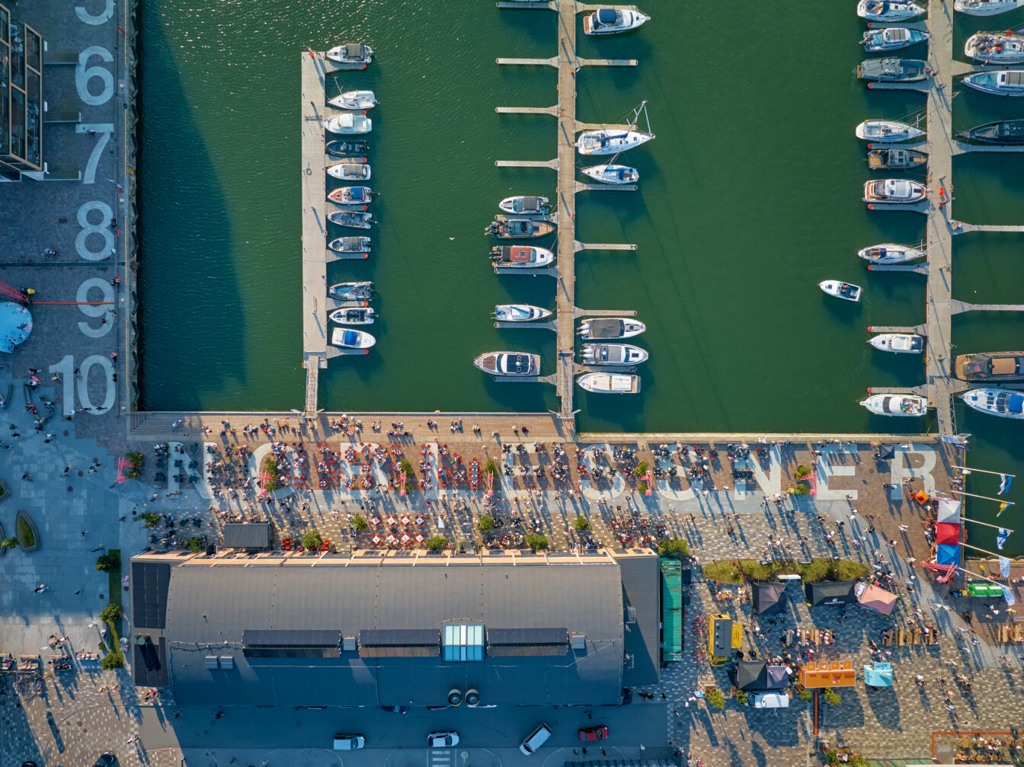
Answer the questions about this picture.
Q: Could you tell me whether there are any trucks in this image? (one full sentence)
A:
Yes, you can see a truck in this photo.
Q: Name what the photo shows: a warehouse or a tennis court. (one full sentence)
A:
Of the two, only a warehouse appears.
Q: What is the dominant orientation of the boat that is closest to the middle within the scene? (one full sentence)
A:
The boat that is closest to the middle is laid out from side to side.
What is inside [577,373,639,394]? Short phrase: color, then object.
white boat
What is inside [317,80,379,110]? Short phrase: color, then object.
white boat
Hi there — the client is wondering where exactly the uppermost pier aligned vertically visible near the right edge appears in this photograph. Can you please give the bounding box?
[866,0,1024,404]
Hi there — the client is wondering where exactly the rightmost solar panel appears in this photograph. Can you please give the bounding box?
[488,629,568,645]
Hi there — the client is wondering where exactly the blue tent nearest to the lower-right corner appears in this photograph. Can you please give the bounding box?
[931,542,959,565]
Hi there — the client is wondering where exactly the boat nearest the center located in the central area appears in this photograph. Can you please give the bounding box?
[474,351,541,376]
